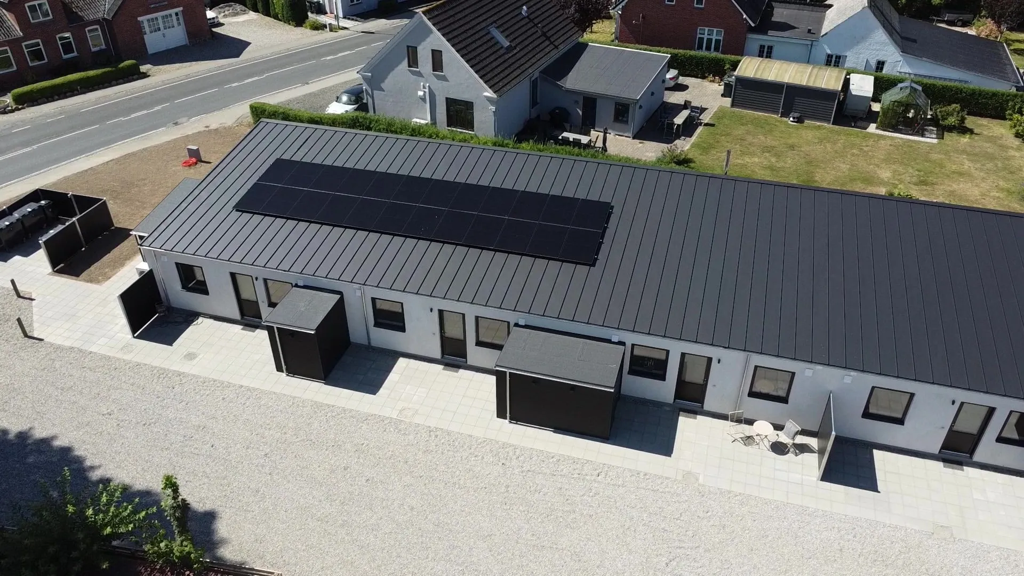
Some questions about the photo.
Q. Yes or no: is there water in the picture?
No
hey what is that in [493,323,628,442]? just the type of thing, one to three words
shed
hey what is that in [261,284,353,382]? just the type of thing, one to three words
shed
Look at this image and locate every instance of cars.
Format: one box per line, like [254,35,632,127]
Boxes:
[203,0,226,22]
[325,83,373,116]
[666,66,686,88]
